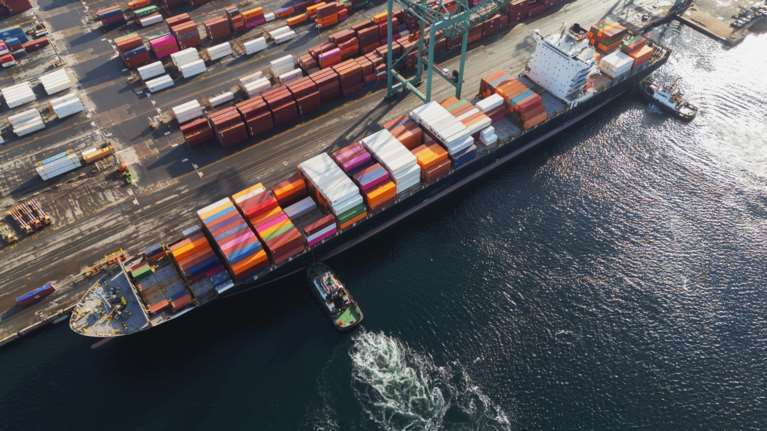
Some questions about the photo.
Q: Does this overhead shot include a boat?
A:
Yes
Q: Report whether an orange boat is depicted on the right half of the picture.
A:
No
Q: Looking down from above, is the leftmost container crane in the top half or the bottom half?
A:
top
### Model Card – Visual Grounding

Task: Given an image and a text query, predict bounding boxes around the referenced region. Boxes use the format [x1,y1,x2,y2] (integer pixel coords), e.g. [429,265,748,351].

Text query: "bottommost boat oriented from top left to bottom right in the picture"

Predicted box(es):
[303,260,359,334]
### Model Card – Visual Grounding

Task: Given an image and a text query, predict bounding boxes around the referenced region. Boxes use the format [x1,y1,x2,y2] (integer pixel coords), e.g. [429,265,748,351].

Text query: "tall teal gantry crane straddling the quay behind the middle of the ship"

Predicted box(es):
[382,0,497,107]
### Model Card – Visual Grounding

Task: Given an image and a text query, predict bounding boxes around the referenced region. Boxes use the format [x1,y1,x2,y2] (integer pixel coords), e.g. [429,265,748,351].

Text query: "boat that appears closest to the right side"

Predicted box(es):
[640,78,700,118]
